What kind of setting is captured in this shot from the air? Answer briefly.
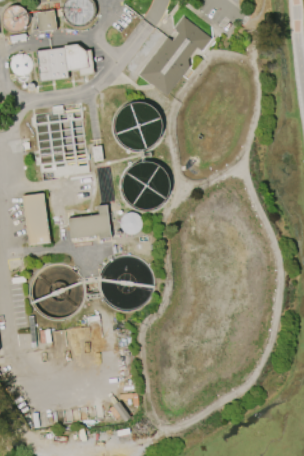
industrial area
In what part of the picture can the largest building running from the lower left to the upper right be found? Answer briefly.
top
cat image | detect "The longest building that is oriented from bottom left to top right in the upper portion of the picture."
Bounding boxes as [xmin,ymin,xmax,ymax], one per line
[140,16,210,96]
